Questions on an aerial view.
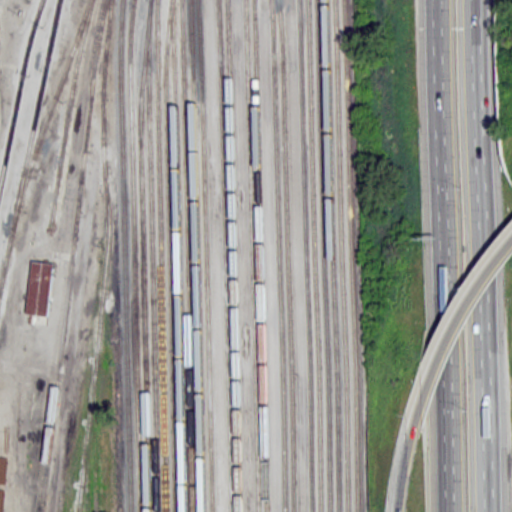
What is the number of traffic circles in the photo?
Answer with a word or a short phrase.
0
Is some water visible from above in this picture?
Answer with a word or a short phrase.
No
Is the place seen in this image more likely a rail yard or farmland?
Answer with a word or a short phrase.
rail yard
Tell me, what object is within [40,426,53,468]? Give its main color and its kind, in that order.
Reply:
white rail car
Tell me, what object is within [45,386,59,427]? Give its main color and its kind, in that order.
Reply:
white rail car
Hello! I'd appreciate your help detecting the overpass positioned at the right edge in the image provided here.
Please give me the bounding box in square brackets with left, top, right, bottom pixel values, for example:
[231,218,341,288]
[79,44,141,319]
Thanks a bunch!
[381,226,512,512]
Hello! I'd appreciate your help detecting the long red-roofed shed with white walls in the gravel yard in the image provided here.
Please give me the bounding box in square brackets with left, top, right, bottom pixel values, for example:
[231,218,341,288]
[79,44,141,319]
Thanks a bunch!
[25,262,54,315]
